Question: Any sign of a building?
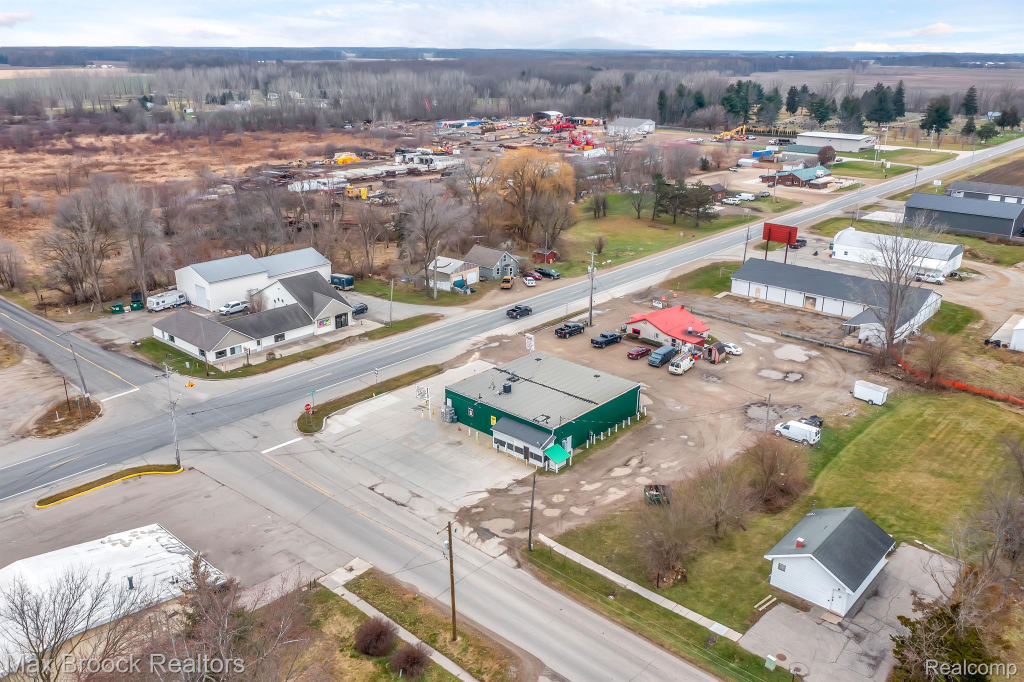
Yes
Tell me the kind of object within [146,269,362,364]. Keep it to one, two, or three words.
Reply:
building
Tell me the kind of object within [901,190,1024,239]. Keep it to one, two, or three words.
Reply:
building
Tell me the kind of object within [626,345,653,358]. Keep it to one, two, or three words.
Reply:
vehicle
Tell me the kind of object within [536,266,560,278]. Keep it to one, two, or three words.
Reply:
vehicle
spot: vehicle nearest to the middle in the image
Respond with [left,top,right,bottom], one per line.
[505,306,533,319]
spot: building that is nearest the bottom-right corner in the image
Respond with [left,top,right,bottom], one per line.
[762,500,898,620]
